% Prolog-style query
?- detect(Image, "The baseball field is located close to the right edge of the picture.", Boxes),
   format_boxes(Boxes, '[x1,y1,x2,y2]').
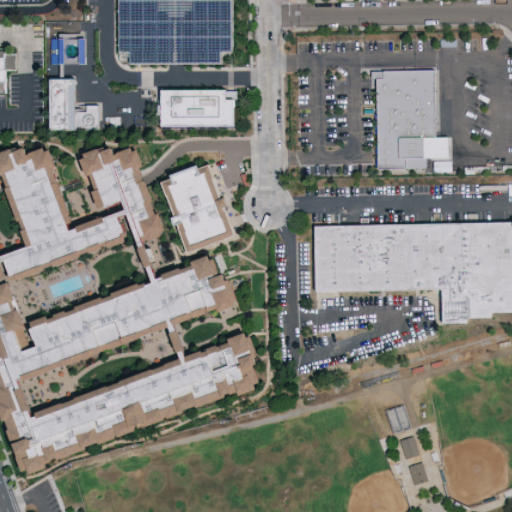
[442,438,509,504]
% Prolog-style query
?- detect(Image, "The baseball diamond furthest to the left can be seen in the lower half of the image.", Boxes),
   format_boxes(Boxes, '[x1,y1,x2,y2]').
[350,470,408,512]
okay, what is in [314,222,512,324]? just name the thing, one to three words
building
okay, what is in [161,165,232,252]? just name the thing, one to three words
building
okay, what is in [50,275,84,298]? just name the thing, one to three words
swimming pool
